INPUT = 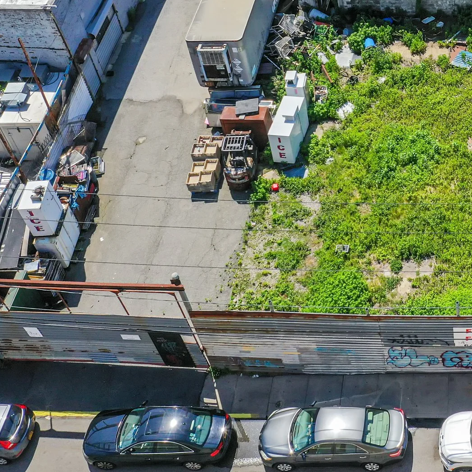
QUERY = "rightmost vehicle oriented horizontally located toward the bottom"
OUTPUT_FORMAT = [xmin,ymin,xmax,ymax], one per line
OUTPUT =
[260,400,412,472]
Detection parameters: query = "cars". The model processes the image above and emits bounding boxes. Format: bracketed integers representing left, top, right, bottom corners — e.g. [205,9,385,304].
[0,406,54,470]
[86,400,244,472]
[439,407,472,472]
[260,400,412,472]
